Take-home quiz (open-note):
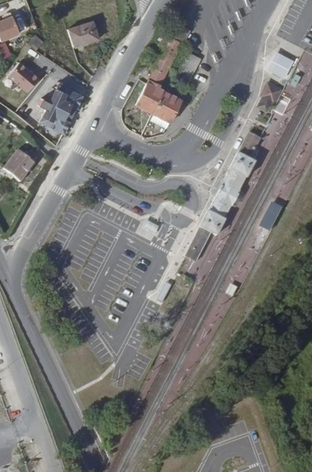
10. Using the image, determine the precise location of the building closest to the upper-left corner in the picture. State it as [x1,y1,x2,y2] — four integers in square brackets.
[0,16,20,42]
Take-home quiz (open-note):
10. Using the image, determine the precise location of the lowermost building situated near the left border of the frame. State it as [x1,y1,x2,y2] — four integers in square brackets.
[4,148,34,181]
